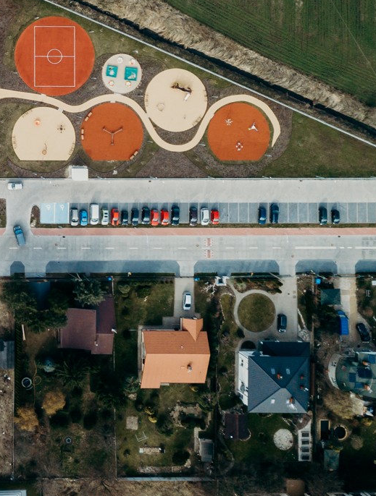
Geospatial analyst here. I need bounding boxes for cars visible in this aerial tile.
[72,209,81,225]
[258,209,269,225]
[81,210,90,226]
[190,209,200,226]
[211,210,220,226]
[131,210,140,226]
[151,210,161,226]
[271,205,281,224]
[101,209,111,226]
[8,182,24,191]
[332,210,341,226]
[121,210,131,227]
[112,209,121,226]
[15,227,27,247]
[142,208,151,225]
[202,209,211,226]
[161,210,170,226]
[319,208,330,226]
[172,206,181,225]
[358,323,371,343]
[278,316,288,332]
[183,292,193,311]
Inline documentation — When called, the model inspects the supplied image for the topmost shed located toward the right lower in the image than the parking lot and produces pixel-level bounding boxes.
[316,287,341,306]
